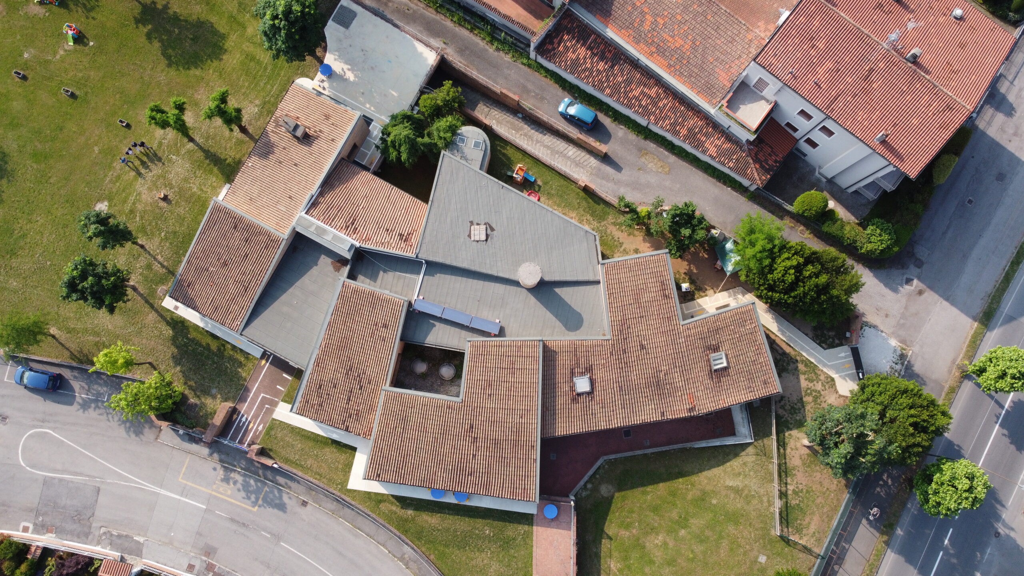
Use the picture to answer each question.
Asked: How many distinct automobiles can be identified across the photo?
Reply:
2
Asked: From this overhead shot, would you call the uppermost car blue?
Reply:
Yes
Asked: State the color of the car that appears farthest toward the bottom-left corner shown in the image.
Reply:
blue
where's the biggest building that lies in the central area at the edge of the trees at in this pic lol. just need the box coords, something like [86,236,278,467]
[166,80,785,505]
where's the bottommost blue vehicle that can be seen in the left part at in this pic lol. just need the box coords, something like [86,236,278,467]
[11,368,60,392]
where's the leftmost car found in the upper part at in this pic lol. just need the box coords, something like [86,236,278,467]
[560,98,603,130]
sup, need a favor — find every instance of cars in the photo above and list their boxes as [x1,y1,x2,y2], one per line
[11,368,60,392]
[560,98,603,130]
